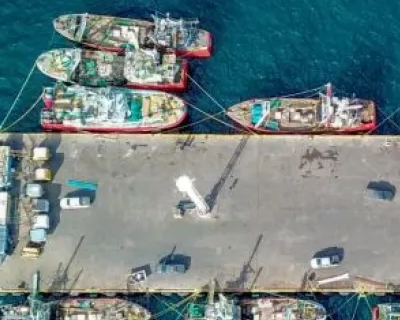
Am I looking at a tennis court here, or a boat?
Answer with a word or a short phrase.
boat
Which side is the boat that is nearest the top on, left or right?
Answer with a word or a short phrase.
left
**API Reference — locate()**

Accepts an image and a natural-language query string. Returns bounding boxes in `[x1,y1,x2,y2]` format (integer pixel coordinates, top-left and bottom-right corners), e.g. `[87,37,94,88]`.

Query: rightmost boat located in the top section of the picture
[227,83,375,134]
